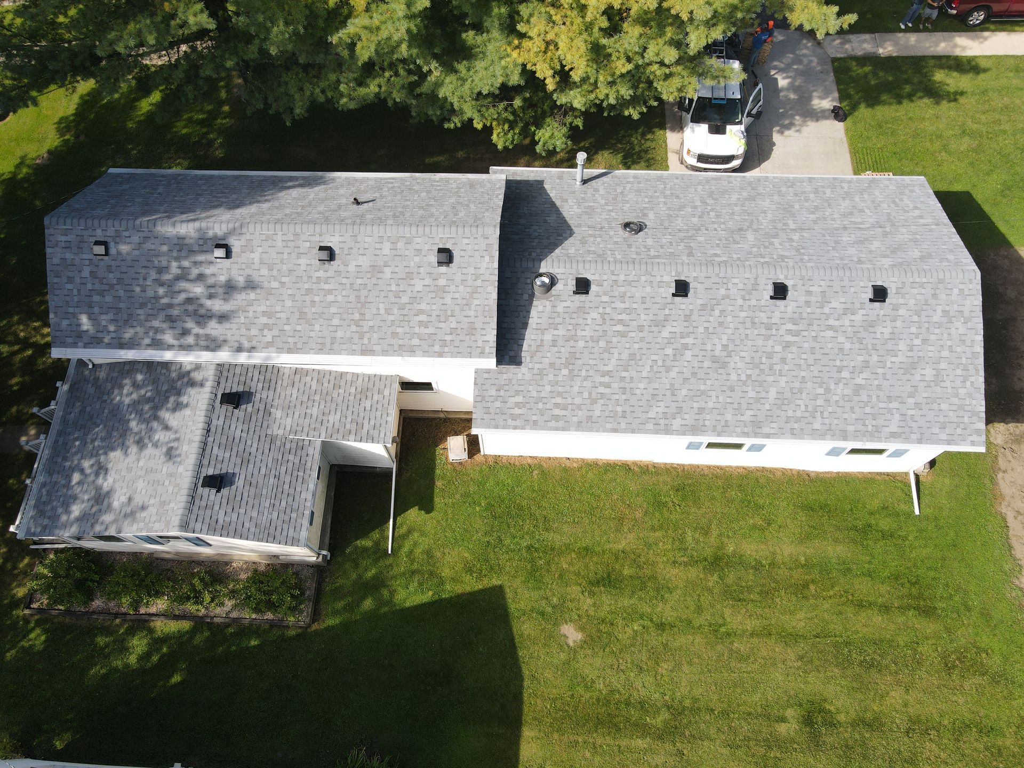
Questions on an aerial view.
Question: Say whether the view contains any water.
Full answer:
No, there's no water in this view.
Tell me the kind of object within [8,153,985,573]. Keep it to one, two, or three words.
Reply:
house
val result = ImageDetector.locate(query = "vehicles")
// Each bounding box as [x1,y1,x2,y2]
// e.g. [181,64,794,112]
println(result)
[667,14,764,169]
[940,0,1024,24]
